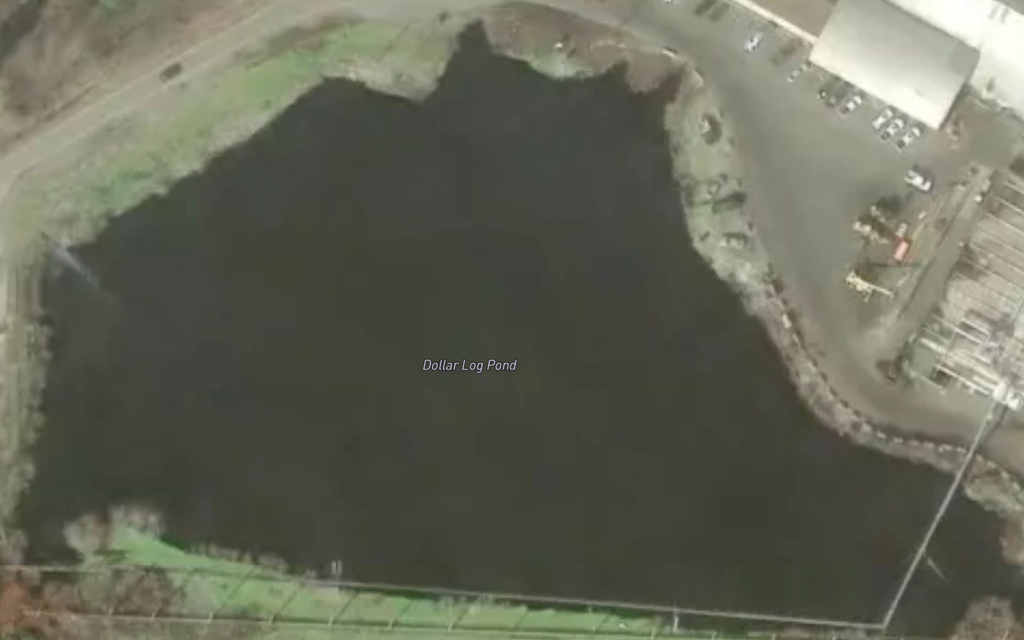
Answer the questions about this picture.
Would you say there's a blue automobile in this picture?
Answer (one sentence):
No, there's no blue automobile here.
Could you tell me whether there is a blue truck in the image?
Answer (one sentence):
No, no blue truck is visible in the scene.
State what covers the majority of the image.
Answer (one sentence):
For the most part, this view shows water.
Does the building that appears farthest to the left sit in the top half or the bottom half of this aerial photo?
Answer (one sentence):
Seen from above, the building that appears farthest to the left lies in the top half of the view.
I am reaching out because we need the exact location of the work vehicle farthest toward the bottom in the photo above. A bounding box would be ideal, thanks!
[846,267,901,301]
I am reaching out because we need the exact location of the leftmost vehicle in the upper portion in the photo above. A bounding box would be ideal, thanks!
[159,62,183,81]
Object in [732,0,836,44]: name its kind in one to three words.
building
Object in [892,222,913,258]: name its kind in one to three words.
truck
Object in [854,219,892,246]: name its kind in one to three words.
work vehicle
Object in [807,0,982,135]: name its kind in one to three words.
building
